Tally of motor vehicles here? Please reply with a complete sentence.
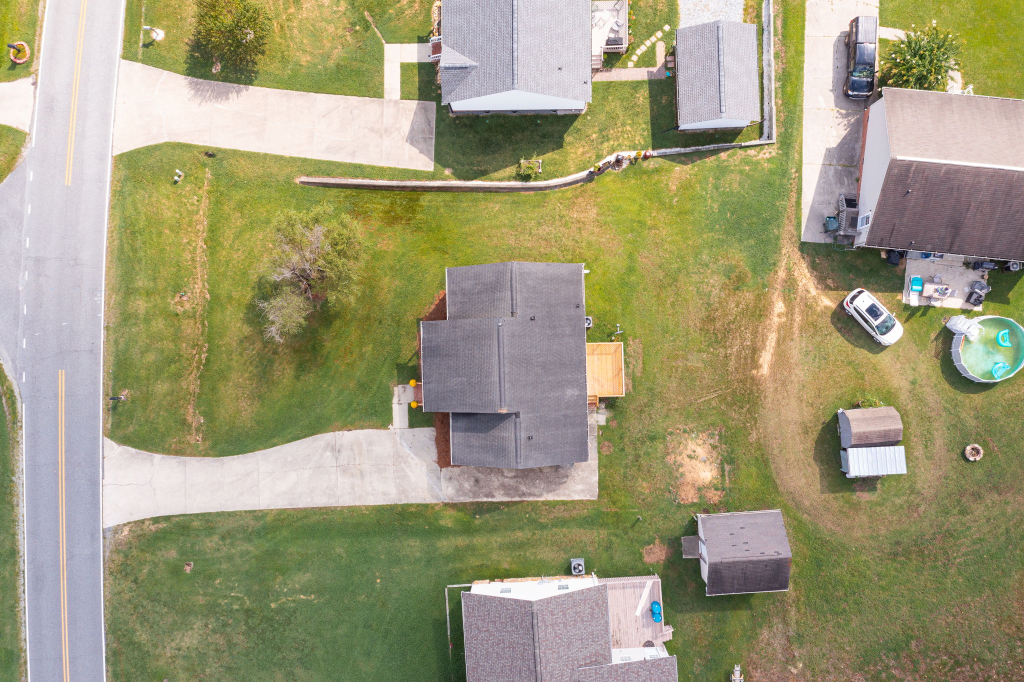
There are 2 motor vehicles in the image.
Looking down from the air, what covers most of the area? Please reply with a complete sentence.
The scene is dominated by grass.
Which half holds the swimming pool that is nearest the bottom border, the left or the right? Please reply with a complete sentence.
The swimming pool that is nearest the bottom border appears in the right half of the scene.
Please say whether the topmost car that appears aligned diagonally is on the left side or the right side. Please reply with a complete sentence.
The topmost car that appears aligned diagonally is on the right side of the image.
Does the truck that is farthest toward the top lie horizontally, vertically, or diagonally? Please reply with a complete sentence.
In this picture, the truck that is farthest toward the top lies vertically.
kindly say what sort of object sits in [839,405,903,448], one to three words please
shed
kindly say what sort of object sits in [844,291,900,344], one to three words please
car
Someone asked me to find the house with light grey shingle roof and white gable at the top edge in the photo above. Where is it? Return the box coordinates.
[427,0,593,117]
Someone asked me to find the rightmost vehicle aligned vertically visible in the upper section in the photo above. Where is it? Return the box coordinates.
[841,17,878,101]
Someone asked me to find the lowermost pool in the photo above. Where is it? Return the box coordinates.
[948,315,1024,382]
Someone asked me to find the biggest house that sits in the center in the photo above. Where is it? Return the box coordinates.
[416,262,591,468]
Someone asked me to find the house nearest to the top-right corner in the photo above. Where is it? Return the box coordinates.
[854,84,1024,263]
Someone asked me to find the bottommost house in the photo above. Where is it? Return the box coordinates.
[460,576,678,682]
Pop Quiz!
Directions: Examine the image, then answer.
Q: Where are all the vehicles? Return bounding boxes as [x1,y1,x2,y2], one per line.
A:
[841,17,878,101]
[844,291,900,344]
